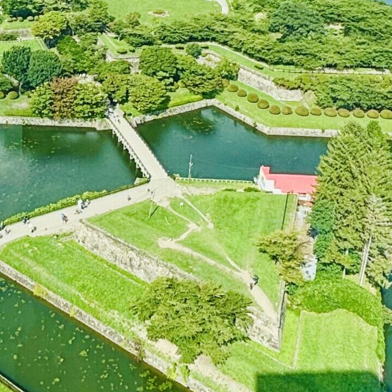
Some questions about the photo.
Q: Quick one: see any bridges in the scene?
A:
Yes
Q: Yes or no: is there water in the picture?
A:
Yes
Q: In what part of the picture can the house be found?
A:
right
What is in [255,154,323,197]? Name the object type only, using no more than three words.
house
